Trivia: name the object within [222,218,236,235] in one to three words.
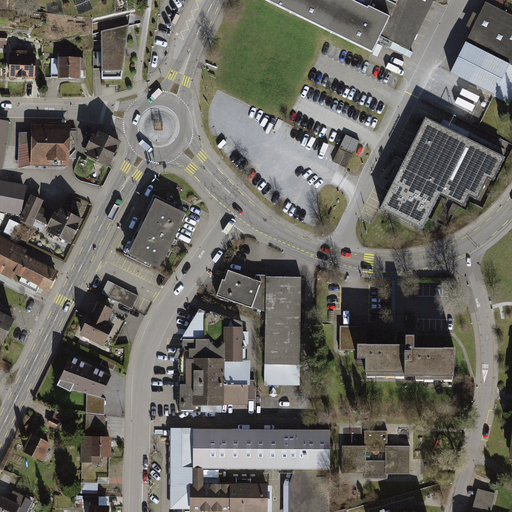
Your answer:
vehicle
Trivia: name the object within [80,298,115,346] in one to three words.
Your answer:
house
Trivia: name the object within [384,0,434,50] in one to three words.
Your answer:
building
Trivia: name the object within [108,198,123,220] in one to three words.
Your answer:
vehicle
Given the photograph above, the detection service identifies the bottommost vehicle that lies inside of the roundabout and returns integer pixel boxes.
[139,140,154,154]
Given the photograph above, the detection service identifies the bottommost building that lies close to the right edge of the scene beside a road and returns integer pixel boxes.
[473,488,495,510]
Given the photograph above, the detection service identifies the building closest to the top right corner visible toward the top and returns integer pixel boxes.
[467,1,512,66]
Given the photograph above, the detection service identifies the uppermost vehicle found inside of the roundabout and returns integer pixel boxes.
[146,87,164,105]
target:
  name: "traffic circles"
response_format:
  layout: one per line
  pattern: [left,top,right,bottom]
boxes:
[119,86,198,166]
